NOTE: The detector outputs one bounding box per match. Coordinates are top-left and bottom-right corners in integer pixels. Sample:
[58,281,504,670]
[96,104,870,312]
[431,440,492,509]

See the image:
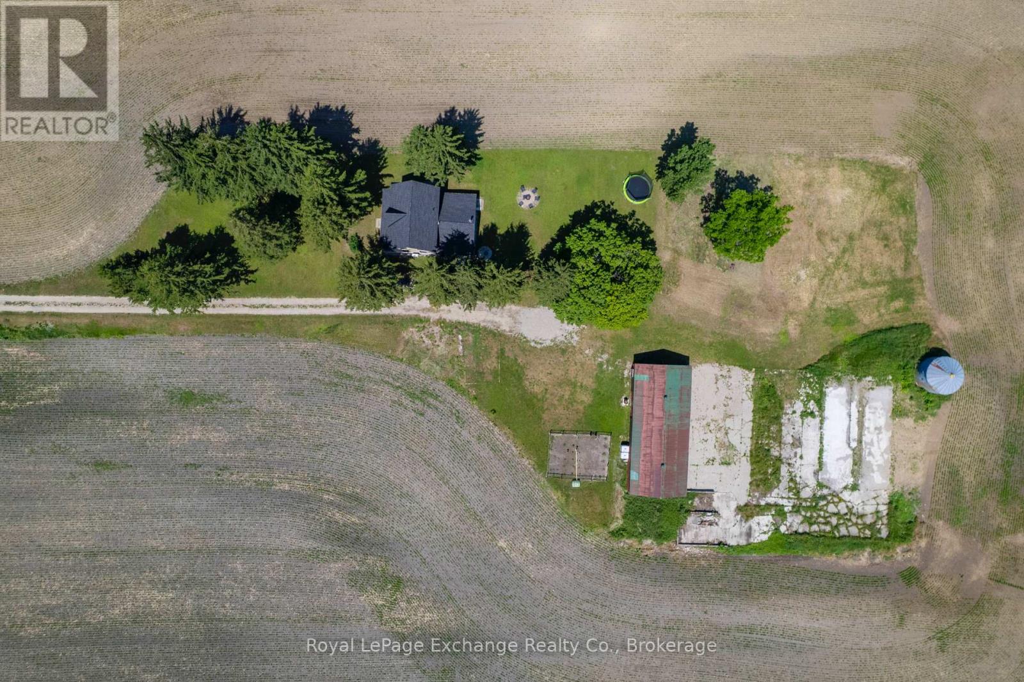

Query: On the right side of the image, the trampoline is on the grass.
[622,170,653,205]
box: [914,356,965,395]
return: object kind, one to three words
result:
silo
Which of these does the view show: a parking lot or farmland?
farmland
